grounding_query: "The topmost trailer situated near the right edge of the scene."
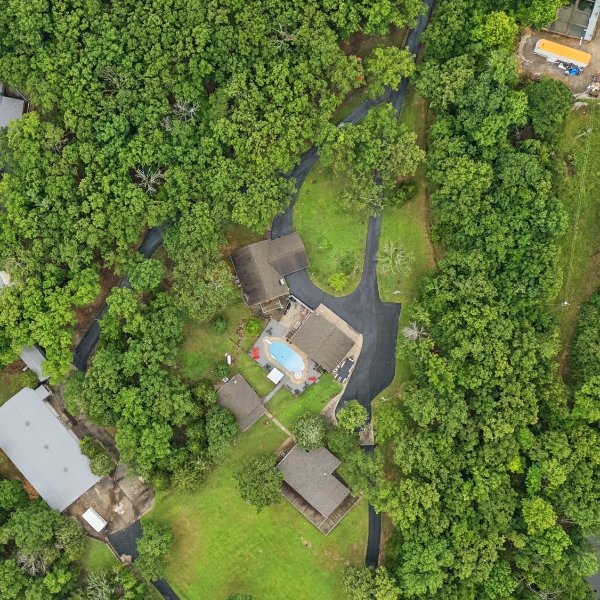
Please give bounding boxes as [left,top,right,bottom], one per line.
[534,38,591,66]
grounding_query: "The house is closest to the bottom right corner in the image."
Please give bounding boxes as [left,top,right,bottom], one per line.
[278,445,361,535]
